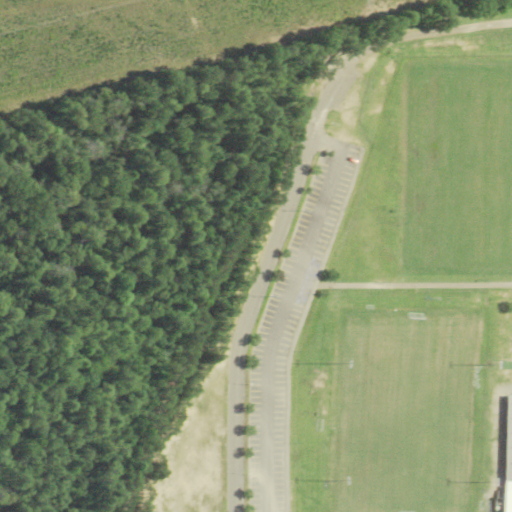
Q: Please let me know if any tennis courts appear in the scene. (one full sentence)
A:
No, there is no tennis court in the image.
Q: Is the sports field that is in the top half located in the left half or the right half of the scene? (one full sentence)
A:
The sports field that is in the top half is on the right side of the image.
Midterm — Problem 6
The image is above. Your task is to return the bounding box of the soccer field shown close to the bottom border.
[335,312,477,512]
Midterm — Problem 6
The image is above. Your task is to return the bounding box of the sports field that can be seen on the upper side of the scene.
[403,54,512,276]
